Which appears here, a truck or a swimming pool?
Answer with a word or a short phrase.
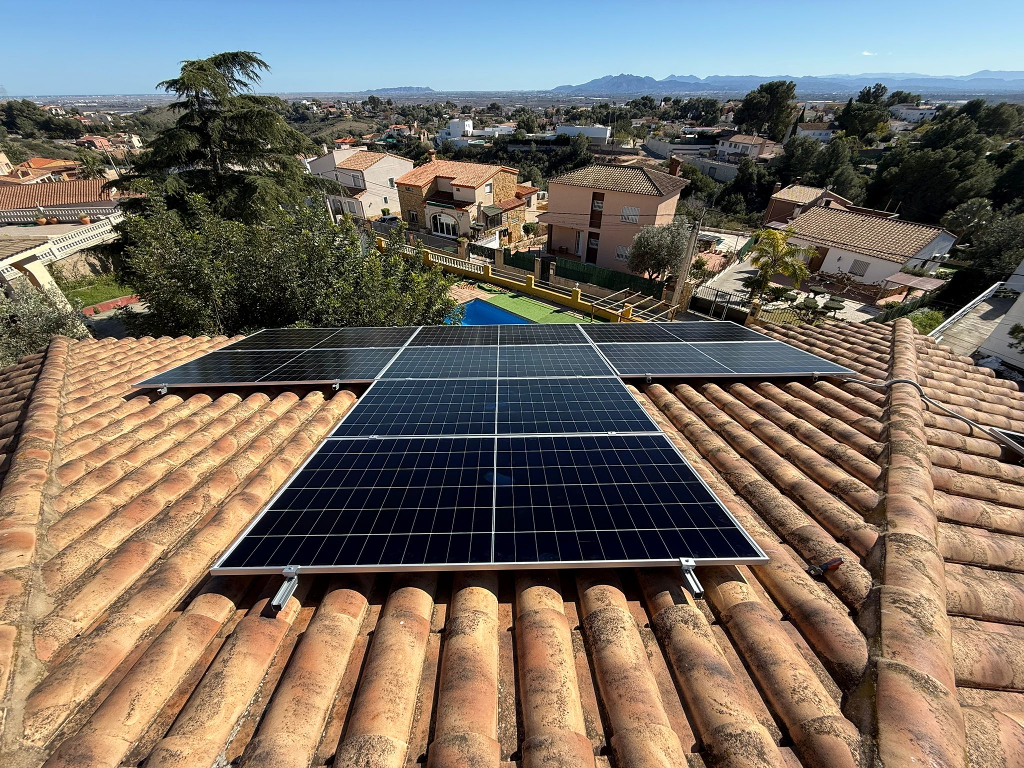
swimming pool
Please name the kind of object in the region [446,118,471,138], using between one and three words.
house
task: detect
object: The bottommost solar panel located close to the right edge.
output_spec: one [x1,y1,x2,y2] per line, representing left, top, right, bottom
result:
[988,428,1024,457]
